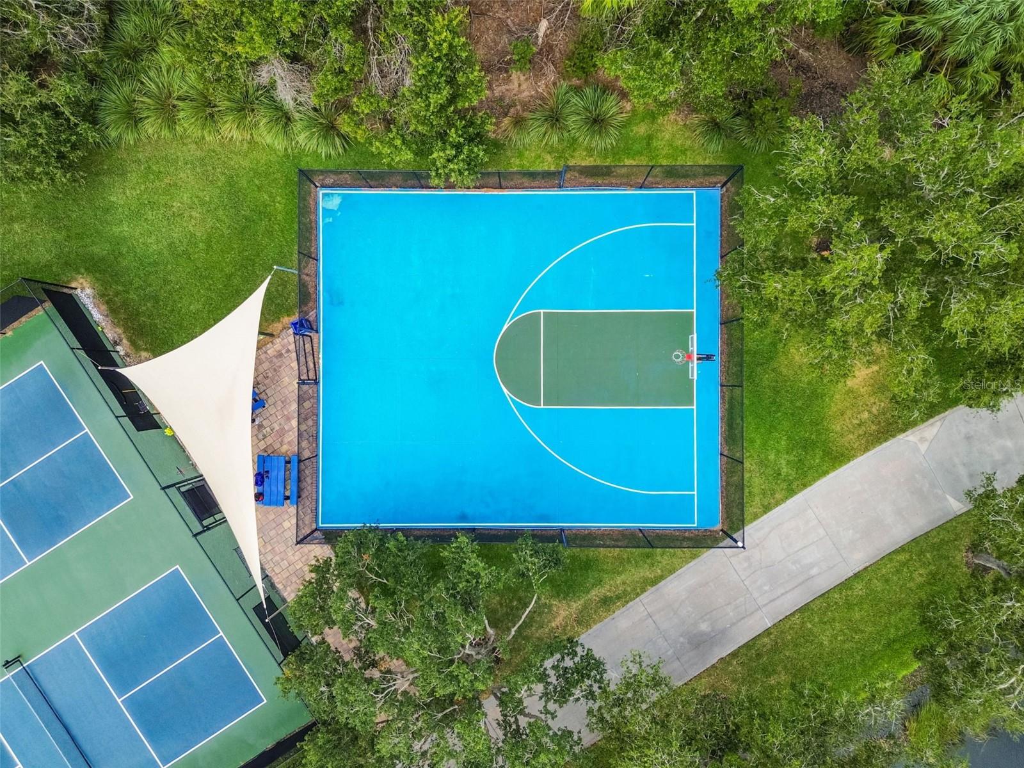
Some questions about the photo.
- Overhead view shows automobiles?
No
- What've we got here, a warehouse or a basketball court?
basketball court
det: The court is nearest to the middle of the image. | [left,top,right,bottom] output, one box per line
[318,187,721,530]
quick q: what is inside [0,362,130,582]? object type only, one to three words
sports court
